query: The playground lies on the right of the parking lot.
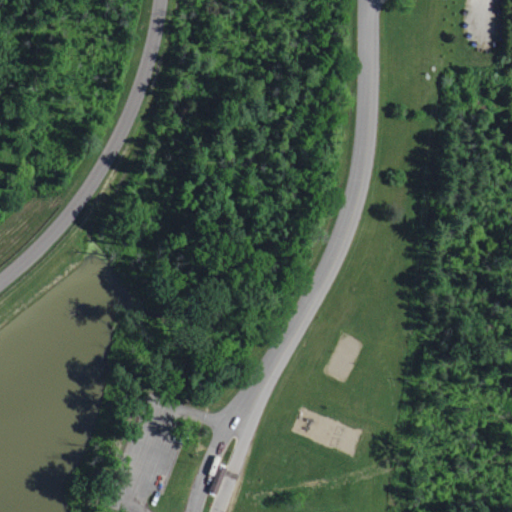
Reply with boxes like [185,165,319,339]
[292,408,362,457]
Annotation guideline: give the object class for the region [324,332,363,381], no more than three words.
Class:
sports court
